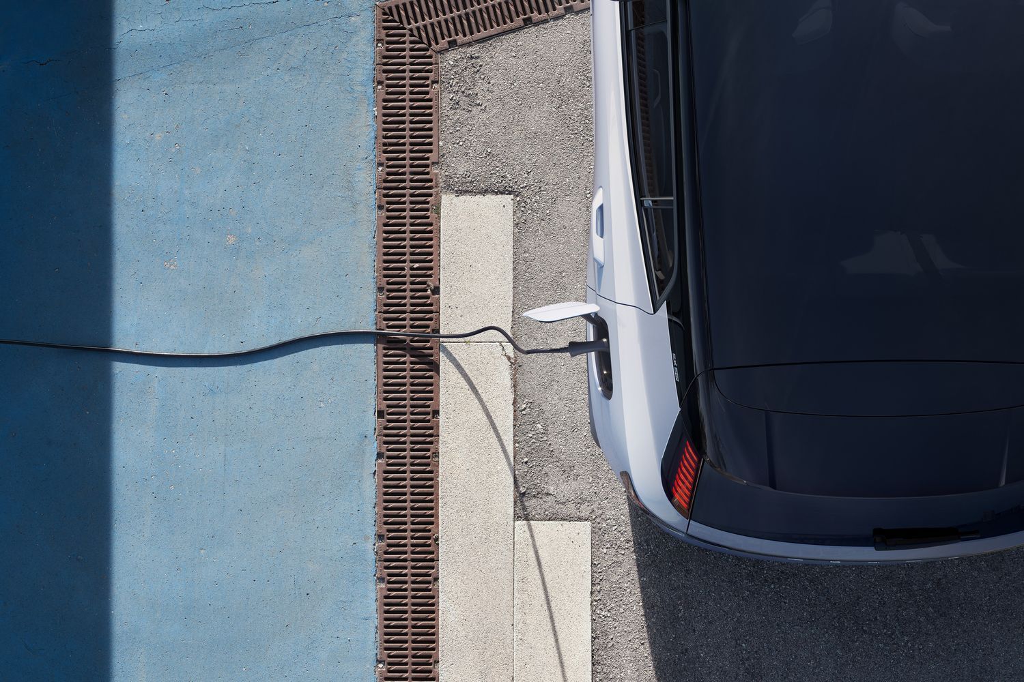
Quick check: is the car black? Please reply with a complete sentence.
Yes, the car appears black.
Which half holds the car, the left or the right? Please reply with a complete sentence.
It is on the right.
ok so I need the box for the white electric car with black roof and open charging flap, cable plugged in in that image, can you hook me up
[523,0,1024,568]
